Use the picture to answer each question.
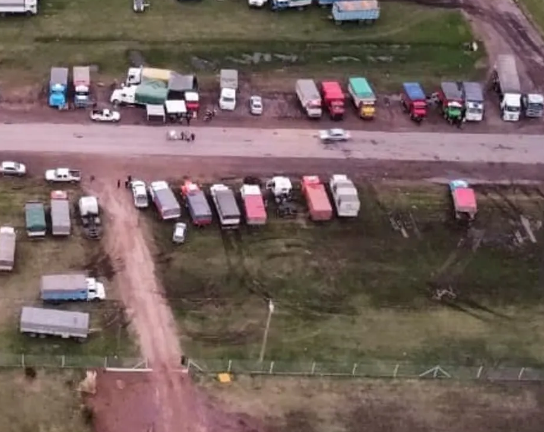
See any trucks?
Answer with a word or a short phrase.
Yes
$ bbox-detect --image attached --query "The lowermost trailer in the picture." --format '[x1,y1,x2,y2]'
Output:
[21,309,101,342]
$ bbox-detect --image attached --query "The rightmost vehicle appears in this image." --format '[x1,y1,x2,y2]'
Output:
[522,96,544,118]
